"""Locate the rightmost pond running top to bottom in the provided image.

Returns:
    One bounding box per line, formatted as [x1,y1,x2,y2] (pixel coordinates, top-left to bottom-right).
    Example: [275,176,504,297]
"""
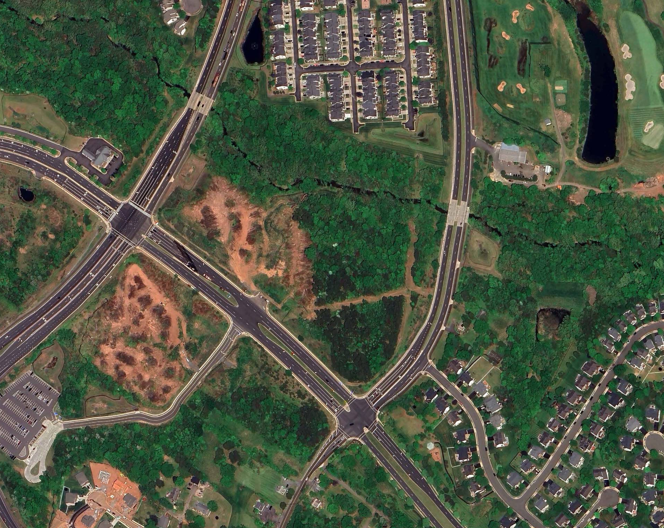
[566,0,618,163]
